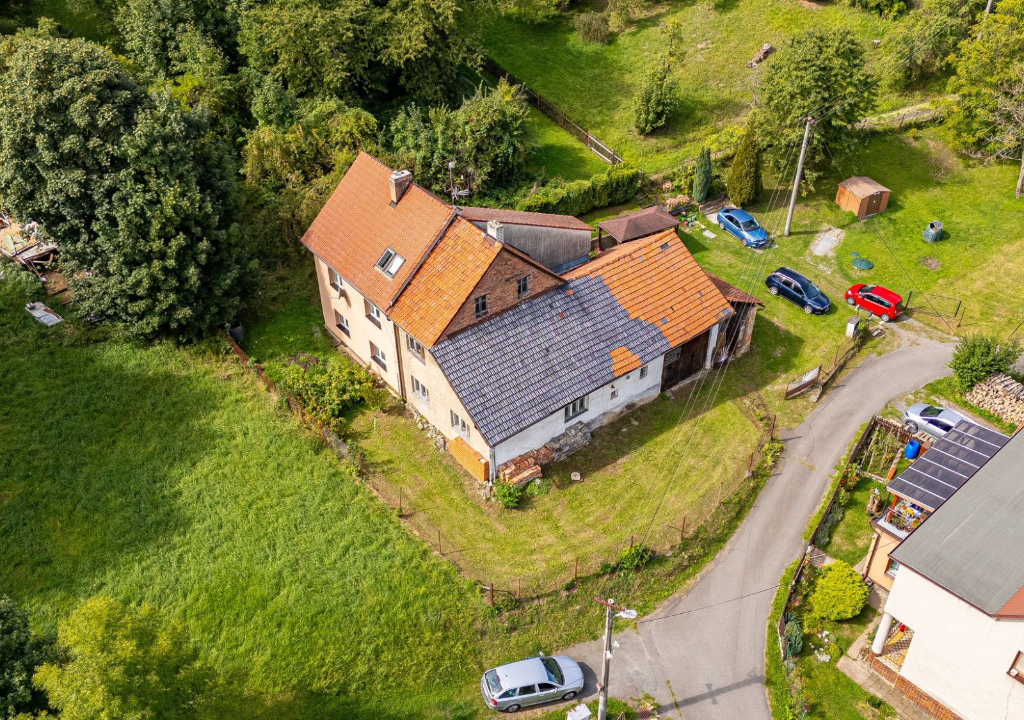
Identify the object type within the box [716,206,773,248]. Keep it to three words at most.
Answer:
car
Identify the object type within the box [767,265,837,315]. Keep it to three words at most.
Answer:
car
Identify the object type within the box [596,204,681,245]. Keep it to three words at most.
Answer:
gazebo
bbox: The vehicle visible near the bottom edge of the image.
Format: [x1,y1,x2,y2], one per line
[481,648,591,713]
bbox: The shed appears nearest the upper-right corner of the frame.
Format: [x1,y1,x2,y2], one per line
[835,174,894,218]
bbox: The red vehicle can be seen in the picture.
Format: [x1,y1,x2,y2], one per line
[846,282,911,322]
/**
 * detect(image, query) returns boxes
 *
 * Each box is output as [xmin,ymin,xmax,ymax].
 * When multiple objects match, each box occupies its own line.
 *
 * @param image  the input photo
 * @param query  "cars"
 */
[904,405,975,448]
[846,282,911,322]
[716,206,773,248]
[481,648,591,713]
[767,265,837,315]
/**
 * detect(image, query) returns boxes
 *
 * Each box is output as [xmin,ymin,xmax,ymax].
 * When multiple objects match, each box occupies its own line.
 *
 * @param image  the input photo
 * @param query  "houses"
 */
[387,209,737,484]
[867,440,1024,720]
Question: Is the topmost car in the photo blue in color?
Yes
